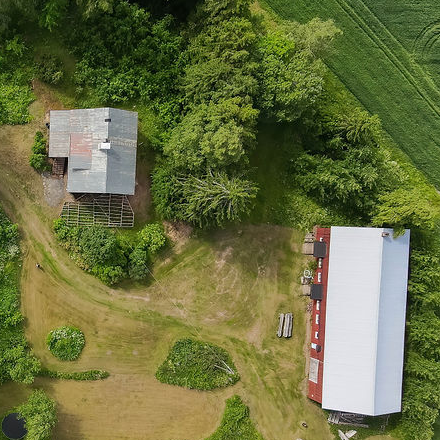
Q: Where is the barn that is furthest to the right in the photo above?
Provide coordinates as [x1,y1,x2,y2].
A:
[298,226,412,417]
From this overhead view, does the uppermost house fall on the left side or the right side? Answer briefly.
left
